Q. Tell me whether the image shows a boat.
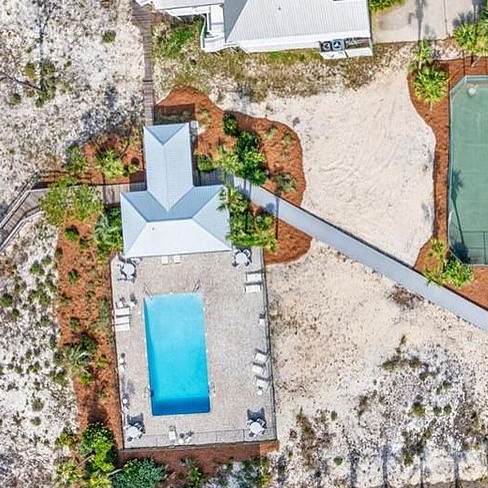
No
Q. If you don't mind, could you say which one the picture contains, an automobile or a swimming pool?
swimming pool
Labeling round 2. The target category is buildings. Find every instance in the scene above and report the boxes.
[120,123,235,258]
[137,0,373,55]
